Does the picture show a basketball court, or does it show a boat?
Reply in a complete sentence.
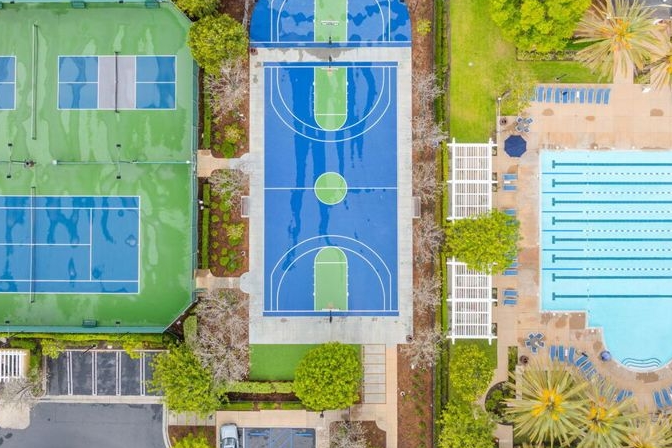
It is a basketball court that can be seen here.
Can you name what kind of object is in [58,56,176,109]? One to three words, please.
sports court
